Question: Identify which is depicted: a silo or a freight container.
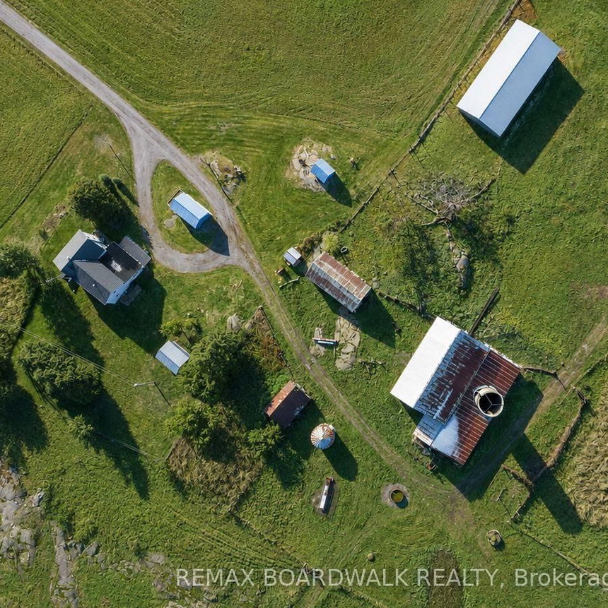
silo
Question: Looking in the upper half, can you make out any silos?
No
